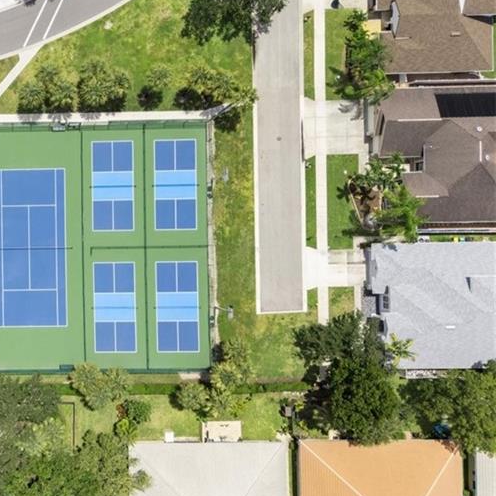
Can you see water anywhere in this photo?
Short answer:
No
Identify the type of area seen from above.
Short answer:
residential area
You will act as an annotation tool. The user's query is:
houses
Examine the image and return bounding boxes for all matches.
[371,88,496,222]
[361,0,496,75]
[362,242,496,370]
[295,439,463,496]
[129,441,290,496]
[464,445,496,496]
